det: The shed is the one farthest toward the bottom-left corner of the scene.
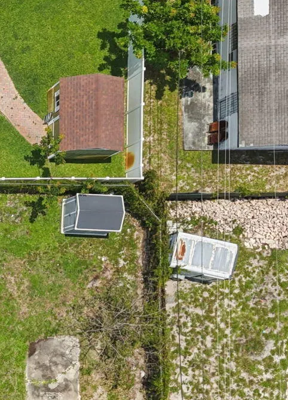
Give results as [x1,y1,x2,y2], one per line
[61,192,125,233]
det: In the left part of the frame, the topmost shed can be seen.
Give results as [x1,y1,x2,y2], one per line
[47,74,123,161]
